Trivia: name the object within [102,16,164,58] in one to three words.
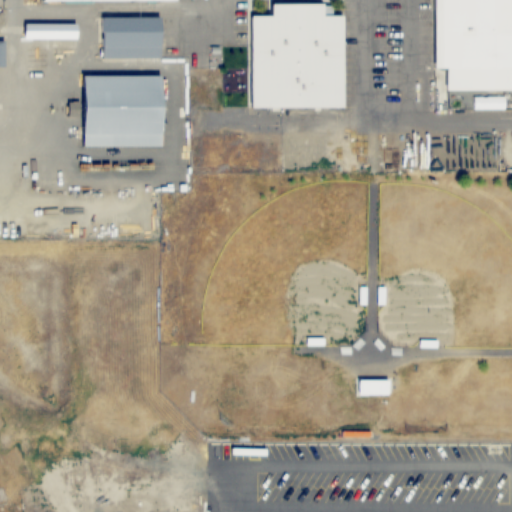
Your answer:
building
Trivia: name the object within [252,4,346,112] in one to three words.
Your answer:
building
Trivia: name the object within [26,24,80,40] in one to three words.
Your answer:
shed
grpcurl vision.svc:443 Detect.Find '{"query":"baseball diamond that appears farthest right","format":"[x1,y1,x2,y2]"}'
[379,184,512,348]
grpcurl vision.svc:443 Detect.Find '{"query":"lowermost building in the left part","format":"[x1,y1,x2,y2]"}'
[83,75,164,146]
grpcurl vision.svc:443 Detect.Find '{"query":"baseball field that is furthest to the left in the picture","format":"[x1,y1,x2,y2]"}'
[202,182,368,346]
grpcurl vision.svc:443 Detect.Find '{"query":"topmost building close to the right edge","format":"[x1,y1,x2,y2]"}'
[434,0,512,92]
